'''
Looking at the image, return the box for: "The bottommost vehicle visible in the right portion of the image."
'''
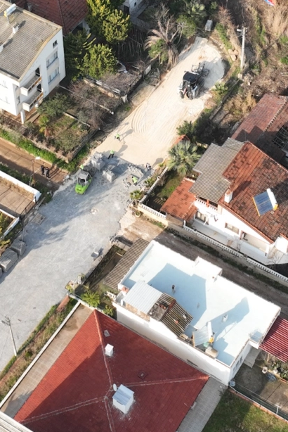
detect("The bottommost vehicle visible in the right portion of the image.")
[170,62,210,106]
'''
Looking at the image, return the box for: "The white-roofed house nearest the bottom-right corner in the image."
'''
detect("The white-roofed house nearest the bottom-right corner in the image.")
[112,239,281,385]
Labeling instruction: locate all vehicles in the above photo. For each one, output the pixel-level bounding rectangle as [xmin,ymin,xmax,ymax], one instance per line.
[71,166,92,195]
[170,62,210,106]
